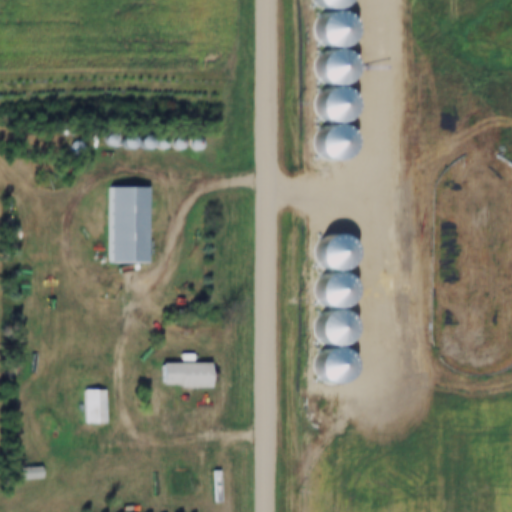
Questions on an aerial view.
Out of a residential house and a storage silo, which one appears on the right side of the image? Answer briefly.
storage silo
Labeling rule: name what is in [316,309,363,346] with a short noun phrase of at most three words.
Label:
silo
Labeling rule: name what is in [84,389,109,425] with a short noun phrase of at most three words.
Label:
shed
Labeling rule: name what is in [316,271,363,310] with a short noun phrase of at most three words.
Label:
silo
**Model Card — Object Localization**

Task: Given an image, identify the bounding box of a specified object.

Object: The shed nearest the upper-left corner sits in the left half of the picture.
[109,187,152,263]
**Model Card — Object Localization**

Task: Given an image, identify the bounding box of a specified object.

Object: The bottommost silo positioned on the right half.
[316,346,363,385]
